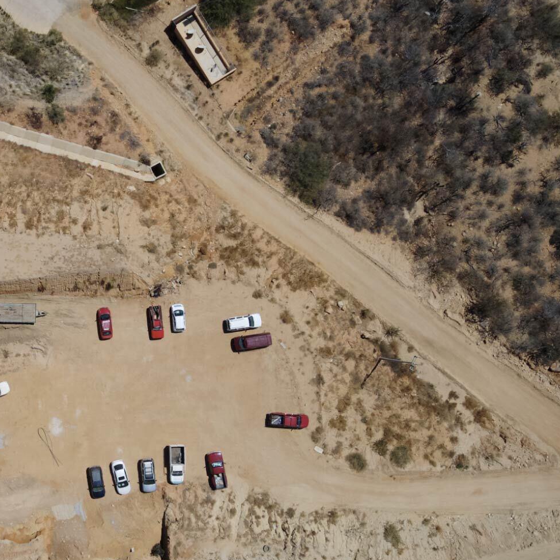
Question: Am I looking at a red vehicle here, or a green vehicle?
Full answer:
Visible in the photo is a red vehicle.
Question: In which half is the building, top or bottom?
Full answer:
The building sits in the top half of the picture.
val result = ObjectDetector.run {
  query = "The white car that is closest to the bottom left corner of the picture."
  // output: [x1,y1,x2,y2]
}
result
[110,460,131,495]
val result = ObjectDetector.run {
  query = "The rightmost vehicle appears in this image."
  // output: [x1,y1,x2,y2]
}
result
[266,412,309,430]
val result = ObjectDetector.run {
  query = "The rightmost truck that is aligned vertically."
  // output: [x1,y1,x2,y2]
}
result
[206,452,228,491]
